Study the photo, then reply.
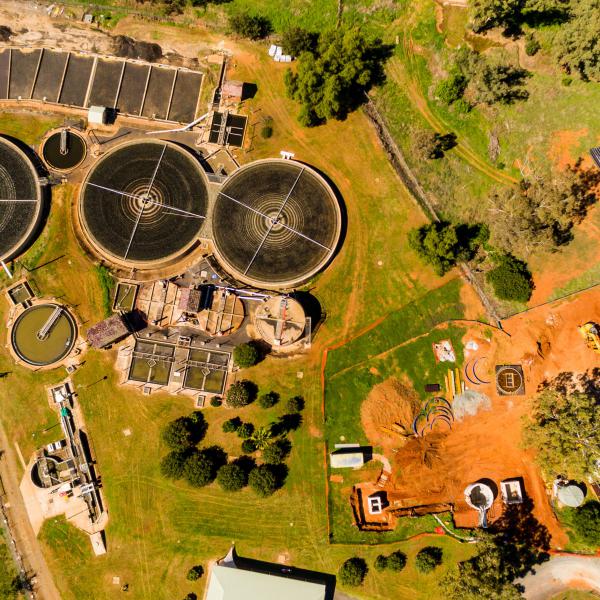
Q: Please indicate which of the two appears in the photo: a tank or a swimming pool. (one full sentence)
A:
I can see a tank in this picture.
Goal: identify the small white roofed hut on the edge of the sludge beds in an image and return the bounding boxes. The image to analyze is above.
[88,105,107,125]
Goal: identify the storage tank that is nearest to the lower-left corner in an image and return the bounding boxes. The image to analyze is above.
[32,457,62,487]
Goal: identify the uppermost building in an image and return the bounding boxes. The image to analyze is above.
[221,80,243,101]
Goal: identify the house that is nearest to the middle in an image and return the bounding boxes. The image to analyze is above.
[179,287,202,312]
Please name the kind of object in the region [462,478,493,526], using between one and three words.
storage tank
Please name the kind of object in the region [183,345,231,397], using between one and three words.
storage tank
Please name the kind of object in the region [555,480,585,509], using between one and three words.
water tank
